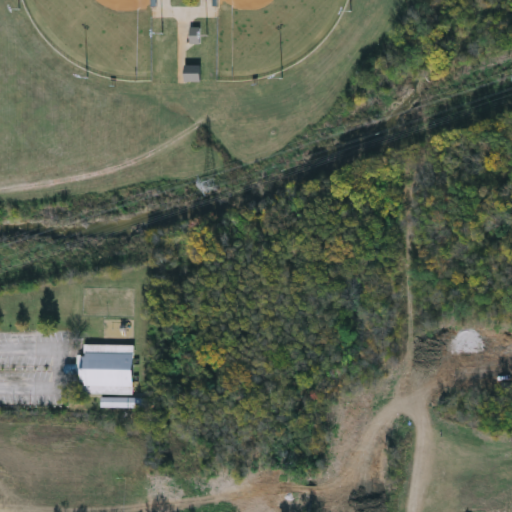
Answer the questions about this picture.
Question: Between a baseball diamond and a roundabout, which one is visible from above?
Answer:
baseball diamond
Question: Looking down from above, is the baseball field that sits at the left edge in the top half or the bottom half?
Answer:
top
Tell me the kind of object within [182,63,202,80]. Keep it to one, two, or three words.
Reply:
building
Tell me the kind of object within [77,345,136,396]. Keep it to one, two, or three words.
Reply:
building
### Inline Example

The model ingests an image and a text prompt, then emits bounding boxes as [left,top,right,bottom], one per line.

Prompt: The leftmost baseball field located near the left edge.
[22,0,152,82]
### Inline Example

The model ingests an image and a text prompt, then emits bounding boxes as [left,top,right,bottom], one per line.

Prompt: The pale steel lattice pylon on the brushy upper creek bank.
[196,174,222,196]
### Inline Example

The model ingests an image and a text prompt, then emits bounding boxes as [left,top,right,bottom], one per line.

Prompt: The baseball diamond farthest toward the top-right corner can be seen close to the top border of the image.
[218,0,348,82]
